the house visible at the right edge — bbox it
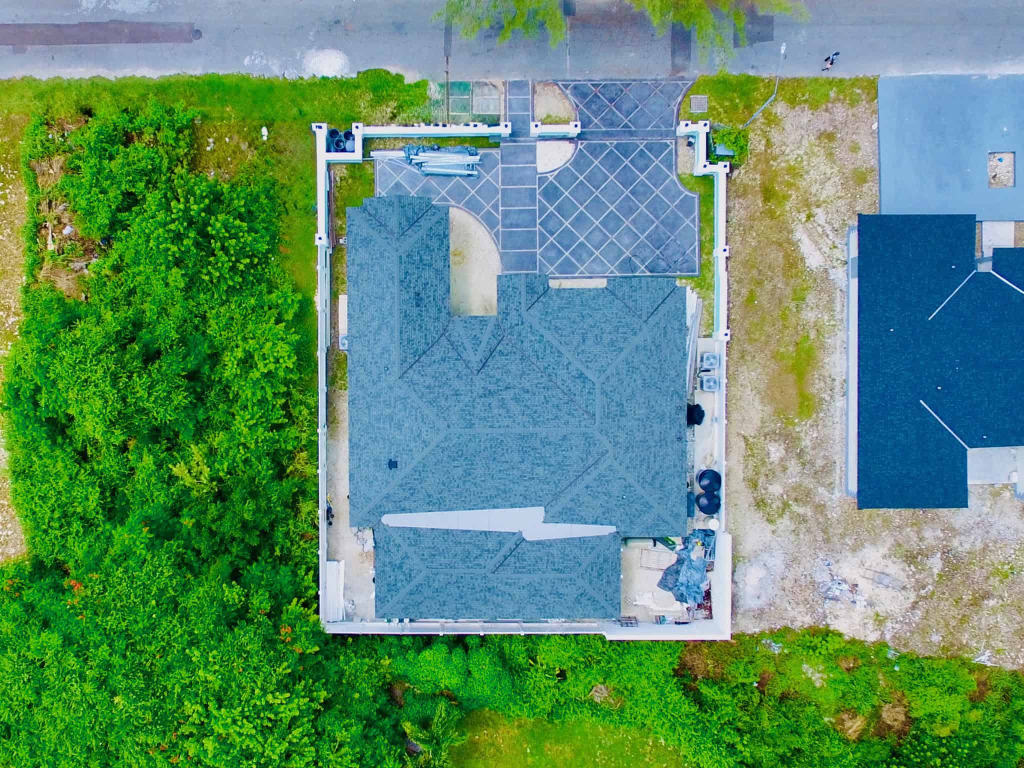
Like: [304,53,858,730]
[847,215,1024,508]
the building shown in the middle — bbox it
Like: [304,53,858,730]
[346,195,686,619]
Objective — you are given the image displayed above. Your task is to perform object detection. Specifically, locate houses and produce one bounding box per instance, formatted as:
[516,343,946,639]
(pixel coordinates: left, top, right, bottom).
[847,215,1024,508]
[346,195,686,619]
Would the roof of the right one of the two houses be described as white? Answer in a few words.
No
